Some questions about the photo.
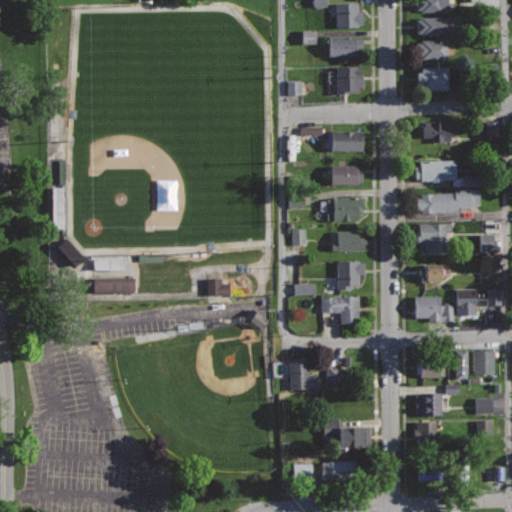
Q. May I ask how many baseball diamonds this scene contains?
2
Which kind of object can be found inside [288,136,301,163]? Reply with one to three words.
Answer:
building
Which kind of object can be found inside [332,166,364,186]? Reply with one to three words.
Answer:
house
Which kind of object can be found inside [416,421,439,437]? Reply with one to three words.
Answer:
house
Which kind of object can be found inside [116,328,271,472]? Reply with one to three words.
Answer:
baseball field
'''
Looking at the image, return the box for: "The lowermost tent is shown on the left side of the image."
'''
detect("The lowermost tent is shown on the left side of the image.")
[157,180,179,212]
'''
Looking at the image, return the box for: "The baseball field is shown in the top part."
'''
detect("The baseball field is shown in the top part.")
[72,13,265,248]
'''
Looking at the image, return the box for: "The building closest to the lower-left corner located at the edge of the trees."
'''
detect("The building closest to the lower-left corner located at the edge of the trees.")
[94,279,135,294]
